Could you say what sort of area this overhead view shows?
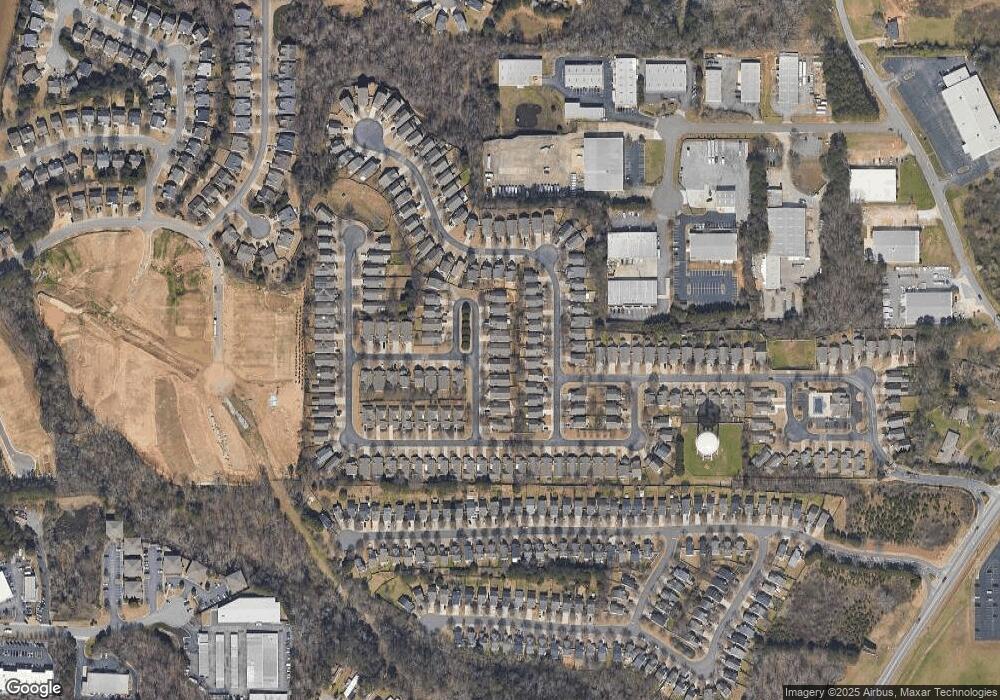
residential area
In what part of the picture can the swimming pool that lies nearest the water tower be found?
right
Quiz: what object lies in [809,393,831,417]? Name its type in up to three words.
swimming pool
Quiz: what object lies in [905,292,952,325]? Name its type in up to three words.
building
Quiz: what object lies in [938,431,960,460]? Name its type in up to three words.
house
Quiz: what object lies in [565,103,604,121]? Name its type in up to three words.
shed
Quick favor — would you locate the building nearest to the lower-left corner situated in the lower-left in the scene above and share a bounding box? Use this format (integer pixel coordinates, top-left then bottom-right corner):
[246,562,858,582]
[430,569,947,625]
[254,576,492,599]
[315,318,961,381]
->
[0,669,54,698]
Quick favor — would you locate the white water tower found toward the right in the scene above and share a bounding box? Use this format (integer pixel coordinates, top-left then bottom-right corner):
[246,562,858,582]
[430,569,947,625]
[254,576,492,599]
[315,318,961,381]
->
[695,432,721,462]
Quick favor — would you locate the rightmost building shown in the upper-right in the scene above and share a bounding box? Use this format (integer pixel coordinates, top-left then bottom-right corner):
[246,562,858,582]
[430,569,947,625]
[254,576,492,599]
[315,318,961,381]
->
[940,67,1000,160]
